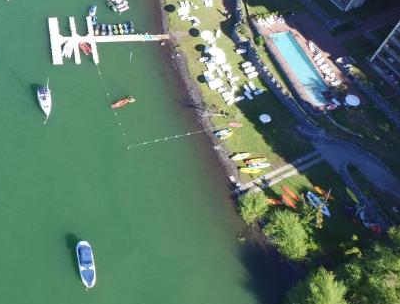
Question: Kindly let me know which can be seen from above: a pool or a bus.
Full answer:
The one in the frame is a pool.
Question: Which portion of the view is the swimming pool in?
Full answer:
The swimming pool is located in the top right region of the scene.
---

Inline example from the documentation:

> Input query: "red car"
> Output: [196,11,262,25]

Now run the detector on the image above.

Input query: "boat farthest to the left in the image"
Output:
[38,78,52,121]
